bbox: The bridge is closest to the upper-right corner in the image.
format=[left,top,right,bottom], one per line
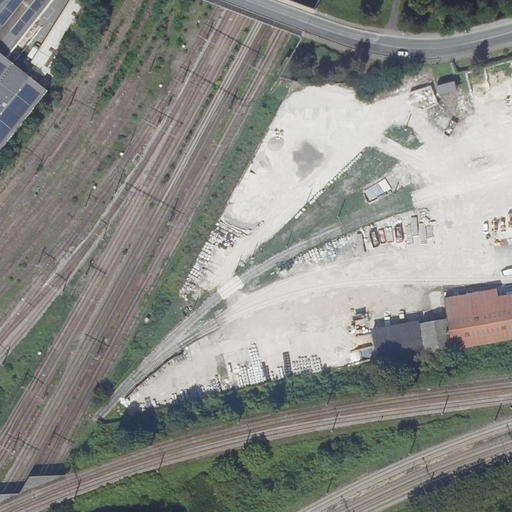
[202,0,320,41]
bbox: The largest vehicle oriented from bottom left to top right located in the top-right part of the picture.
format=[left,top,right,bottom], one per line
[444,116,460,136]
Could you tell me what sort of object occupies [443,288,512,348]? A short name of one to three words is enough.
building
